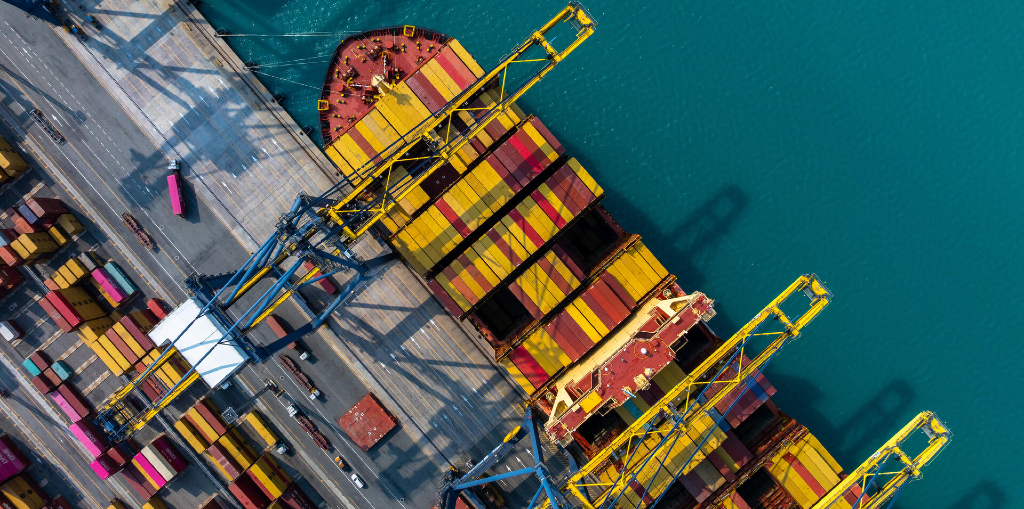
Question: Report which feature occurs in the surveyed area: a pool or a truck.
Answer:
truck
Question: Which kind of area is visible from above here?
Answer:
port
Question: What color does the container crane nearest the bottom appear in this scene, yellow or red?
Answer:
yellow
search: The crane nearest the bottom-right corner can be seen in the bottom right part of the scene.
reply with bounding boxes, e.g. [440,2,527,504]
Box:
[800,406,952,509]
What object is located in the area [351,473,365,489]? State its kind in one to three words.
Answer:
car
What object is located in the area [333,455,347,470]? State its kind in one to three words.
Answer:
vehicle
